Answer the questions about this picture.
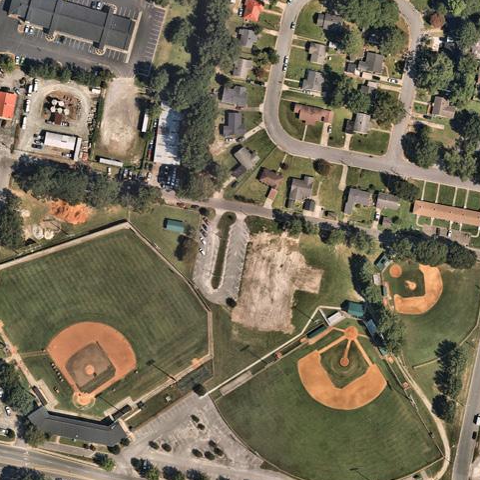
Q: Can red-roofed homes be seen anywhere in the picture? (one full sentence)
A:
Yes, there's a red-roofed home here.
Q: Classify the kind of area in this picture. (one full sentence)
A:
This image shows a sports ground.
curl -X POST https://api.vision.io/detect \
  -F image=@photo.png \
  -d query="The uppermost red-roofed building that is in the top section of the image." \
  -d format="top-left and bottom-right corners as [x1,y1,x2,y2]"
[240,0,264,22]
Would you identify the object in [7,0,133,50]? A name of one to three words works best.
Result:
building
